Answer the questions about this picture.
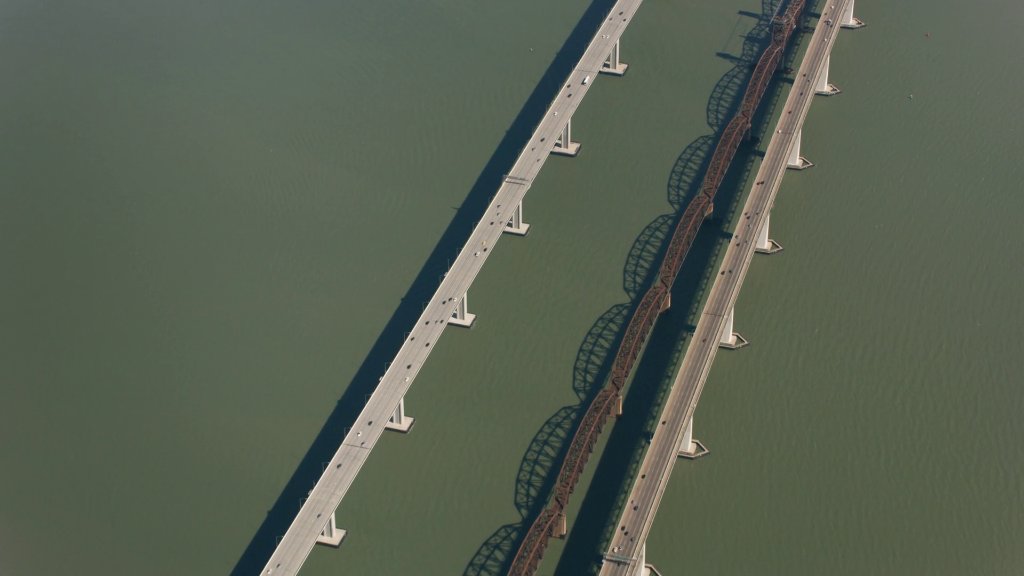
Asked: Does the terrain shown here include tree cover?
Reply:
No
